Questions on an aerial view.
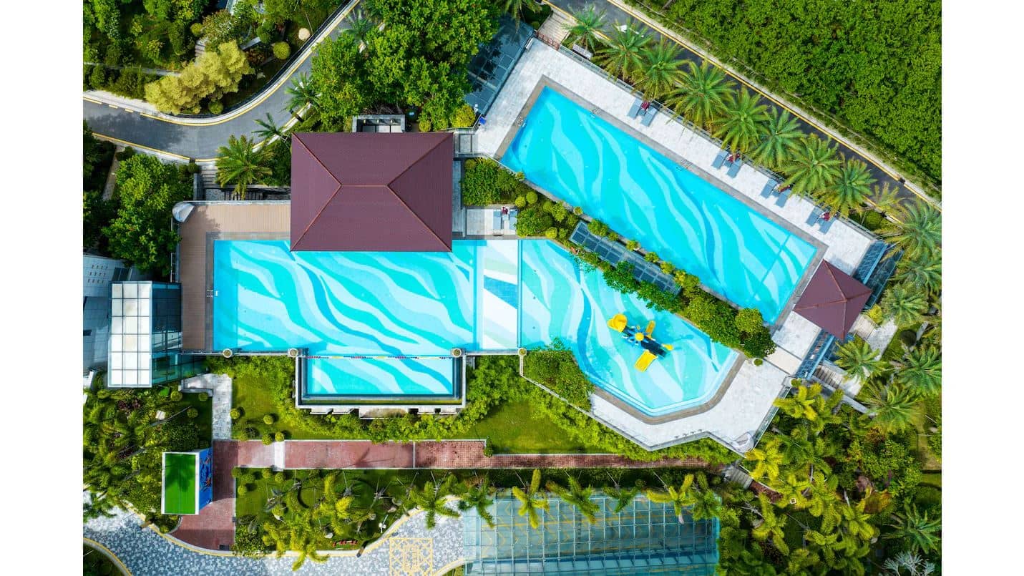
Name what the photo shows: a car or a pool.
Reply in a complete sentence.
The one in the frame is a pool.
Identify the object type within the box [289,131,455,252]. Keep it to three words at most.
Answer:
building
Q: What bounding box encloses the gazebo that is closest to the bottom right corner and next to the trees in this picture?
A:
[785,258,873,340]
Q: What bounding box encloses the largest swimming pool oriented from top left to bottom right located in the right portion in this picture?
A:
[500,87,818,324]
